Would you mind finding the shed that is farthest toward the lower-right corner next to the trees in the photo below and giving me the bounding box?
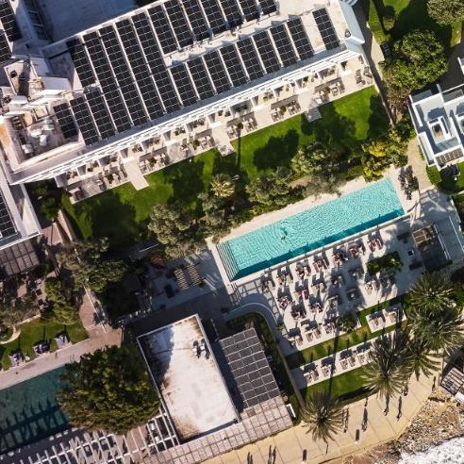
[441,363,464,395]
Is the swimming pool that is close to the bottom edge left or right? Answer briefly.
left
